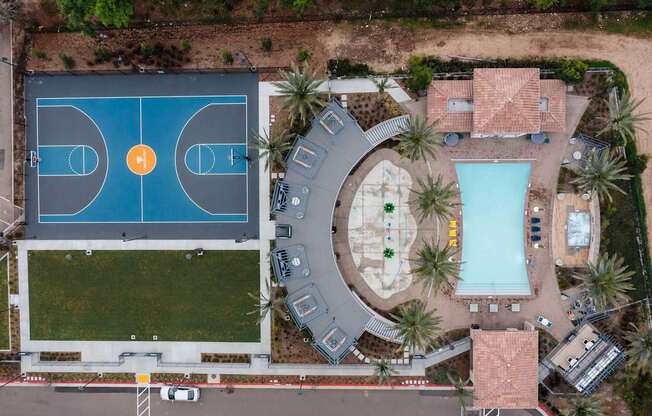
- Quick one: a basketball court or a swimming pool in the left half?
basketball court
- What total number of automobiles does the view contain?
1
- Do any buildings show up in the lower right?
Yes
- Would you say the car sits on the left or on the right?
left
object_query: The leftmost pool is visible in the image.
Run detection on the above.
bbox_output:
[452,158,535,299]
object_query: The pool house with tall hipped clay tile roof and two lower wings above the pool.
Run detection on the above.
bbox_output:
[425,67,567,139]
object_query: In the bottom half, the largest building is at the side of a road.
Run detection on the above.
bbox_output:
[468,329,539,410]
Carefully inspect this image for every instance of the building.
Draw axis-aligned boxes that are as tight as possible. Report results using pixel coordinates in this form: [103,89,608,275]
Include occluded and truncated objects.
[468,329,539,410]
[425,67,567,139]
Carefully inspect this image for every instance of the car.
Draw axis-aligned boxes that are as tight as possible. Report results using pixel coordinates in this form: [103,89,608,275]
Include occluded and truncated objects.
[160,384,201,403]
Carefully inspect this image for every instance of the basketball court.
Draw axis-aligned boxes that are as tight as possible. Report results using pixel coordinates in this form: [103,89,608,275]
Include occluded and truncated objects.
[24,72,259,240]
